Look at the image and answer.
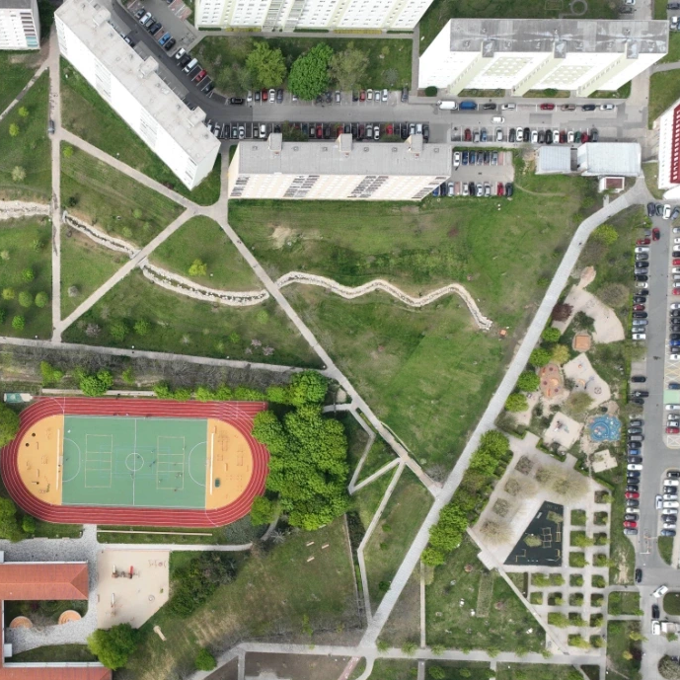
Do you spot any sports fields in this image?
Yes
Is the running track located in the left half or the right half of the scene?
left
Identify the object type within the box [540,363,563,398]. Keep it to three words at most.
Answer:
playground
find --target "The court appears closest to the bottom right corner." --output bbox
[504,501,564,567]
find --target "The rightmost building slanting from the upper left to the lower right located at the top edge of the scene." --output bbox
[54,0,221,190]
